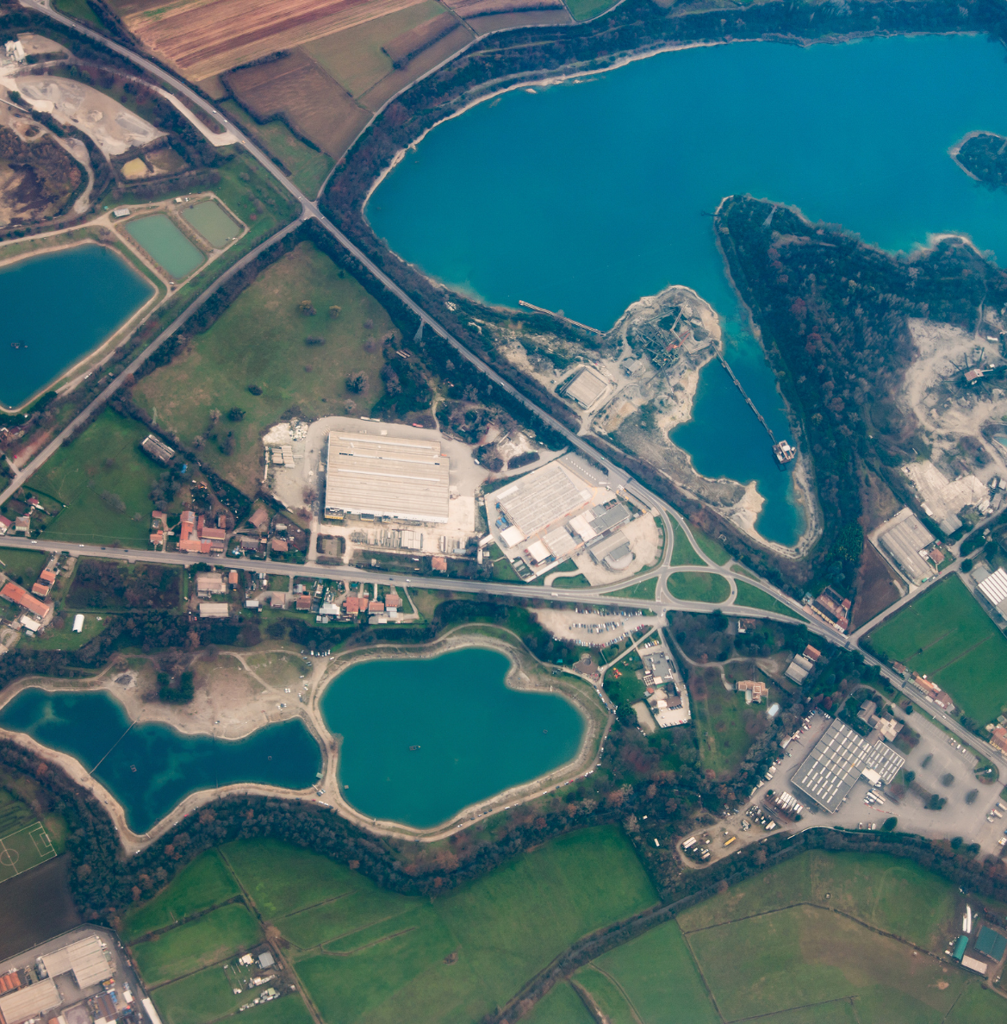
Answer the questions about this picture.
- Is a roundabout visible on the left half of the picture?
No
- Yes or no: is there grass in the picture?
Yes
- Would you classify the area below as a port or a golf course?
port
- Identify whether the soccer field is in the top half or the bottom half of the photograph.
bottom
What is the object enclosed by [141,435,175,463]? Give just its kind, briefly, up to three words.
barn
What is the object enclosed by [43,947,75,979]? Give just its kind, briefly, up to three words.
building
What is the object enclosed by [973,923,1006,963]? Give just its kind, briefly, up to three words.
shed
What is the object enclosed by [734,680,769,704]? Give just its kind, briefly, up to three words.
house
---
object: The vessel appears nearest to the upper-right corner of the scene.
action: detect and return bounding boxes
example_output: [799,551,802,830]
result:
[771,440,796,471]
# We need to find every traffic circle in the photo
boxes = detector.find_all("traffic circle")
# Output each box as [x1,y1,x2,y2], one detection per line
[656,566,737,609]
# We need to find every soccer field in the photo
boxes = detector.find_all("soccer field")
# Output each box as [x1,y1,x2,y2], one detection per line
[0,817,59,885]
